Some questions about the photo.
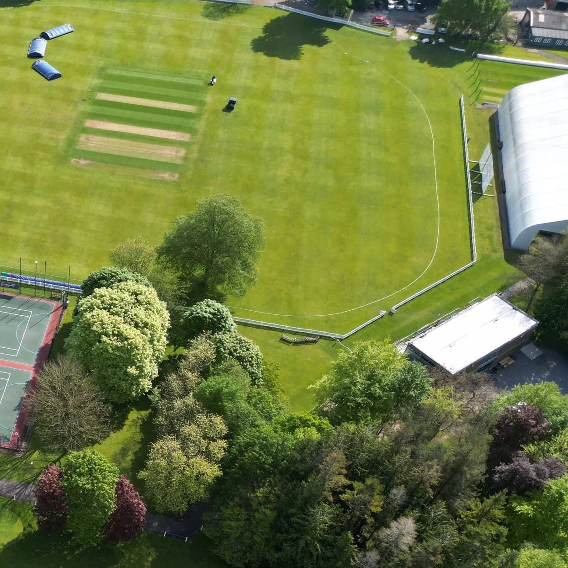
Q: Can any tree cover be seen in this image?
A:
Yes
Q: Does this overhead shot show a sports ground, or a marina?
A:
sports ground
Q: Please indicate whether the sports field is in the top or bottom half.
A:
top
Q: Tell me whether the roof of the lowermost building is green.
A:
No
